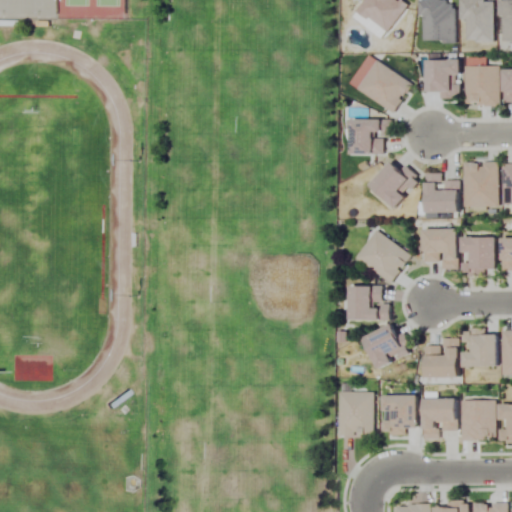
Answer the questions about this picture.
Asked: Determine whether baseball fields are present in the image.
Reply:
Yes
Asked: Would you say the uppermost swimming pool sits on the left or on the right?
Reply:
right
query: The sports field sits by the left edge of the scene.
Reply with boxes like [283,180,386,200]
[0,62,110,391]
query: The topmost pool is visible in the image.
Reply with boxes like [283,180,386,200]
[349,29,370,49]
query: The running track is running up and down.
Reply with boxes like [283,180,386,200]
[0,40,133,414]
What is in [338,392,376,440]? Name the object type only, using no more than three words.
house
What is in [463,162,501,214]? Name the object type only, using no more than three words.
house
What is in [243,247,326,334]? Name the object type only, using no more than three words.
baseball field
